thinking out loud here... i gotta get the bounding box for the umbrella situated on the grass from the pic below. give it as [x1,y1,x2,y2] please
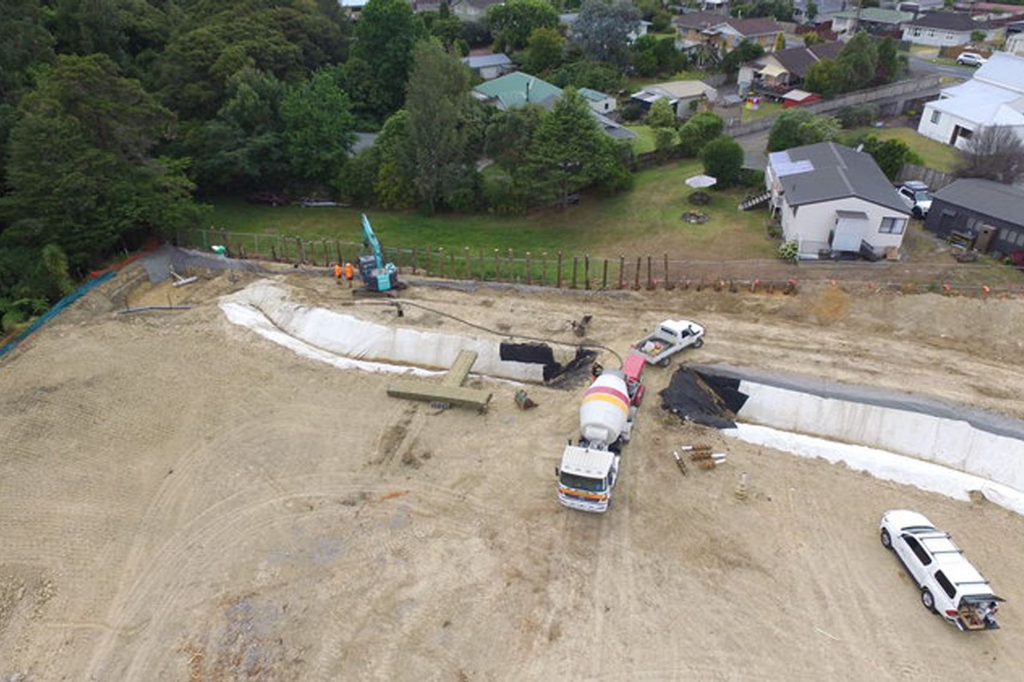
[688,176,720,201]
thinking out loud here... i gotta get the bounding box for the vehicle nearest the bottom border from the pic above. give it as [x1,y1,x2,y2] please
[878,516,1008,637]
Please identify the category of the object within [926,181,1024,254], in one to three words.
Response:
shed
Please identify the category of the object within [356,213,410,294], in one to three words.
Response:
work vehicle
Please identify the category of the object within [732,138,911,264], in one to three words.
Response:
house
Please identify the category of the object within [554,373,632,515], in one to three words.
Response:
truck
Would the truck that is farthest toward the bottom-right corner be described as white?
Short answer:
Yes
